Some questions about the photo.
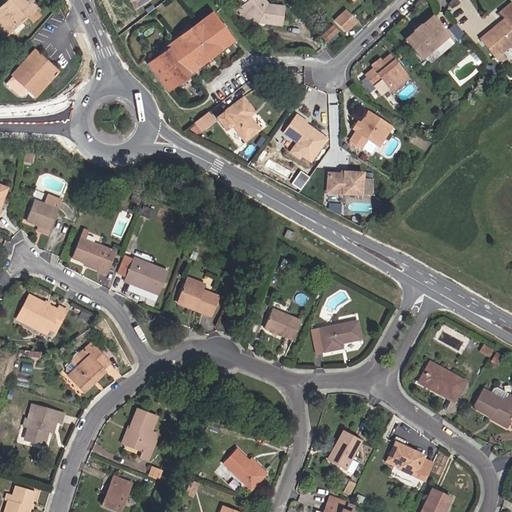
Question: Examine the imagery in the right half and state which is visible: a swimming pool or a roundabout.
swimming pool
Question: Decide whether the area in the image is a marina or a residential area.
residential area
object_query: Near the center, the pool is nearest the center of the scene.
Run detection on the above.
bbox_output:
[294,292,308,306]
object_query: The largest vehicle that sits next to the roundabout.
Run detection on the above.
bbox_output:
[132,91,146,122]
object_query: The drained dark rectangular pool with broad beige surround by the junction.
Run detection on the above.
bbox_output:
[434,325,470,354]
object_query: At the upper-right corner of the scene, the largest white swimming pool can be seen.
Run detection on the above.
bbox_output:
[448,53,482,86]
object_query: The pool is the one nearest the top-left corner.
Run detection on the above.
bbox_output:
[36,174,68,197]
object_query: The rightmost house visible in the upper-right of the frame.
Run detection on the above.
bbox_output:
[480,3,512,62]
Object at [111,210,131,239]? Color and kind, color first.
white swimming pool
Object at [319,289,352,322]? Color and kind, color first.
white swimming pool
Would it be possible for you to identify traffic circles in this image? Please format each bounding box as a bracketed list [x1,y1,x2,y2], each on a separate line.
[88,94,138,146]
